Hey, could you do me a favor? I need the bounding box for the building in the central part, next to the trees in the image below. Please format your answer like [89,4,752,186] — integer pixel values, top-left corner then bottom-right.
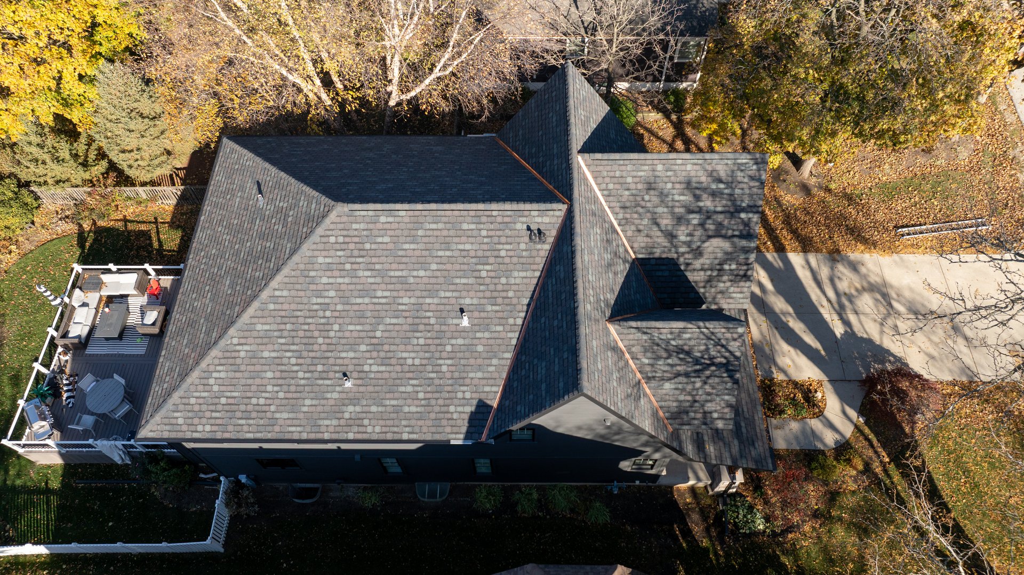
[131,58,778,516]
